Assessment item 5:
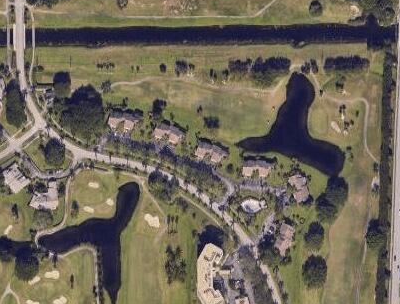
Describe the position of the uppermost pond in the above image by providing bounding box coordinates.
[237,72,344,177]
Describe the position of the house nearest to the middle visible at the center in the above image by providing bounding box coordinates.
[197,140,230,166]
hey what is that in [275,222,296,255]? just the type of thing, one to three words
house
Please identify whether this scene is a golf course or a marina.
golf course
